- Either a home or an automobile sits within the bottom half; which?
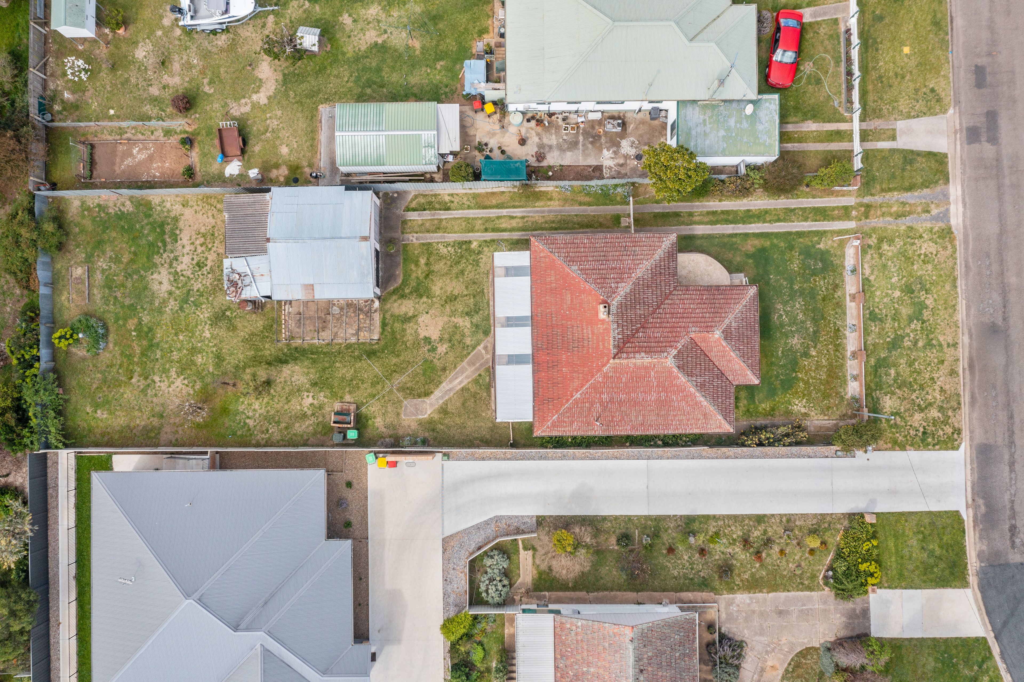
home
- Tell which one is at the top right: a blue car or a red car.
red car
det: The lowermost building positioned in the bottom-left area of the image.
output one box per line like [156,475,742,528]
[89,467,372,682]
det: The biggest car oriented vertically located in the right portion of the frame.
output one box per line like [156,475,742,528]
[763,8,805,91]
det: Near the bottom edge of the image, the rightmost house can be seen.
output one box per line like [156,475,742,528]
[520,604,698,682]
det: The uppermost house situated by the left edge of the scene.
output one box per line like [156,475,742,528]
[48,0,107,46]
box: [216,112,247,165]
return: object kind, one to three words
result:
trailer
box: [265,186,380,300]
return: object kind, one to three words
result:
shed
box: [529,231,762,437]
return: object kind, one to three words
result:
house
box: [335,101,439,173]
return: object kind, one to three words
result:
shed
